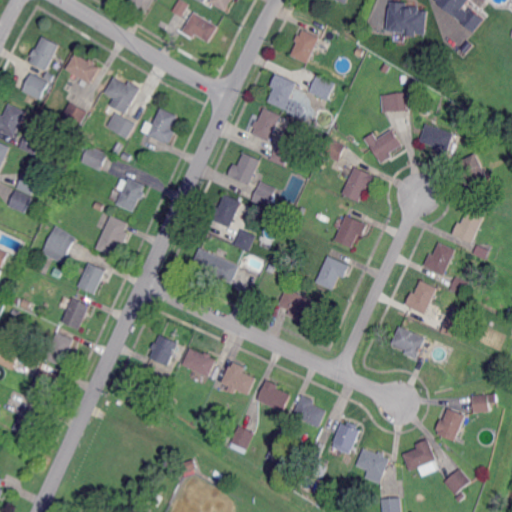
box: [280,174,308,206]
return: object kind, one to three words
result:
swimming pool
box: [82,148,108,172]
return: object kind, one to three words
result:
building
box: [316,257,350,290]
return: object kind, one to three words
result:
house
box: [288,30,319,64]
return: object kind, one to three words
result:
house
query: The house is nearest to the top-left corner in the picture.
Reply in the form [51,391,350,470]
[28,36,60,70]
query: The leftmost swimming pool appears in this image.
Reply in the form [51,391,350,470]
[0,230,26,256]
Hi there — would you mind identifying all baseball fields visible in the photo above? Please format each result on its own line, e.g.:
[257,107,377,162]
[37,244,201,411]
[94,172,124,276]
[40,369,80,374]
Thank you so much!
[170,476,236,512]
